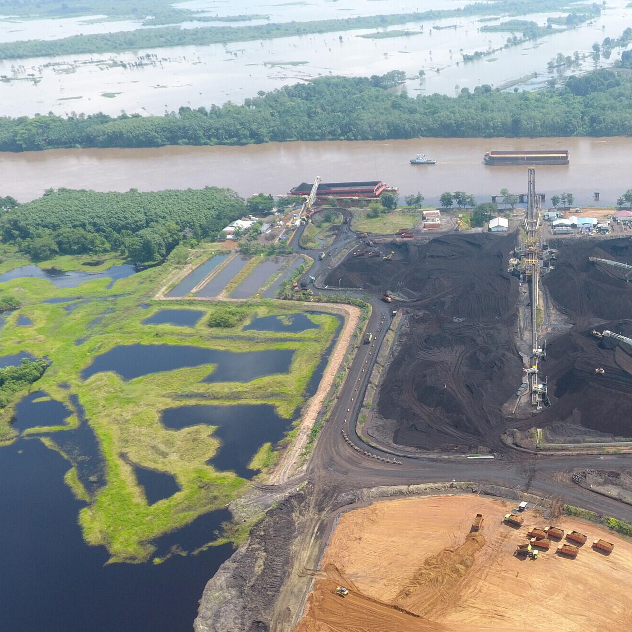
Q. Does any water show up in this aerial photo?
Yes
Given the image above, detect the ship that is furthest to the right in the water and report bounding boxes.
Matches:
[483,151,569,164]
